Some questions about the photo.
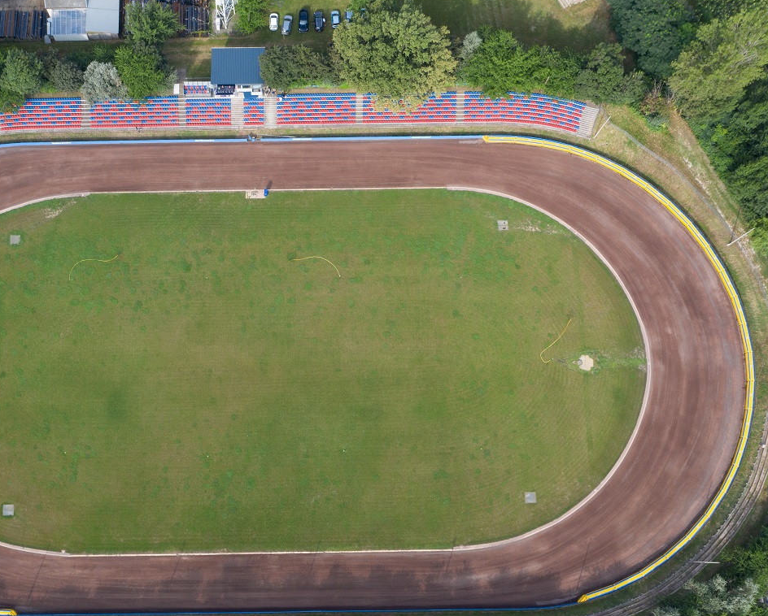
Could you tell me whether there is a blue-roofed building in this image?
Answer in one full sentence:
Yes, looking at the shot, I can spot a blue-roofed building.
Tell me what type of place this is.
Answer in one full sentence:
This looks like a sports ground.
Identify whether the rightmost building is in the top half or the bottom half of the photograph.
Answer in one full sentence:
The top half of the photo is where the rightmost building is.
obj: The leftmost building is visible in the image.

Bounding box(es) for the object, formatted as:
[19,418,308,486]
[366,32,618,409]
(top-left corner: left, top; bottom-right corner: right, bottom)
[44,0,89,41]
